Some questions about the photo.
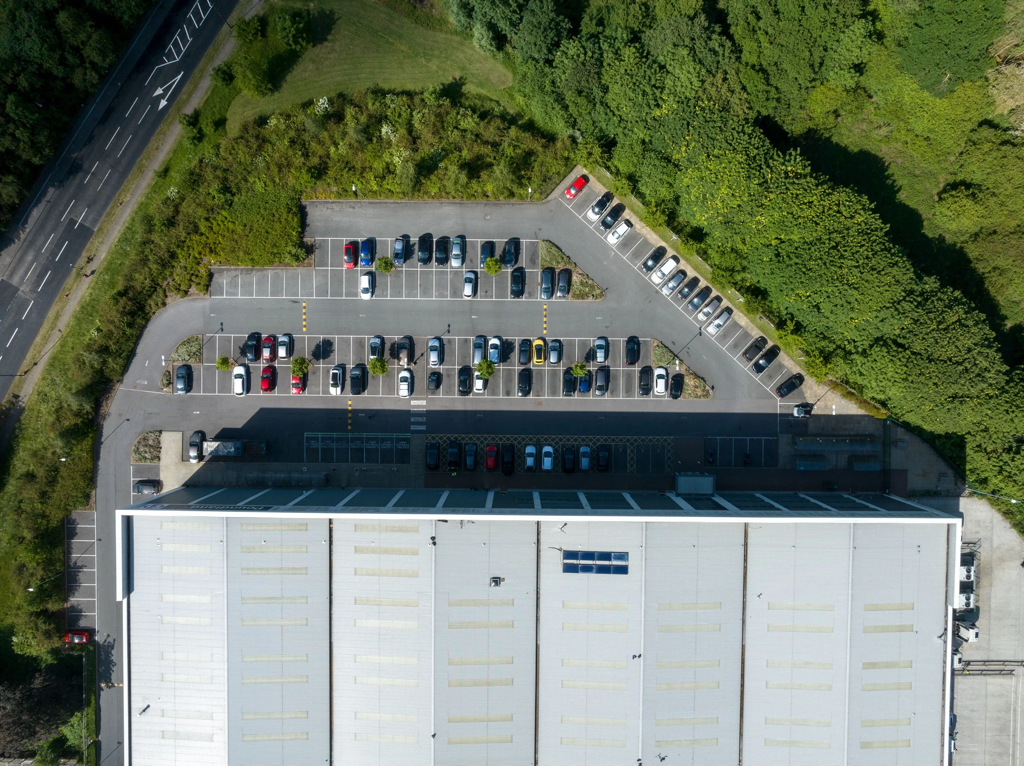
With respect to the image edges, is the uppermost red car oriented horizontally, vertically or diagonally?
diagonally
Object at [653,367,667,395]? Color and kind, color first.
white car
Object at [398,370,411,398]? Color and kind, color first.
white vehicle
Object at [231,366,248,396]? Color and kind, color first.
white car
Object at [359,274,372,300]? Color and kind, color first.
white vehicle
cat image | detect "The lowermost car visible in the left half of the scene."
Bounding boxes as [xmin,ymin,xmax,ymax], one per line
[66,630,91,644]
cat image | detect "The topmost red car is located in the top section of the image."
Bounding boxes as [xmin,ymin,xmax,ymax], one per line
[564,174,589,200]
